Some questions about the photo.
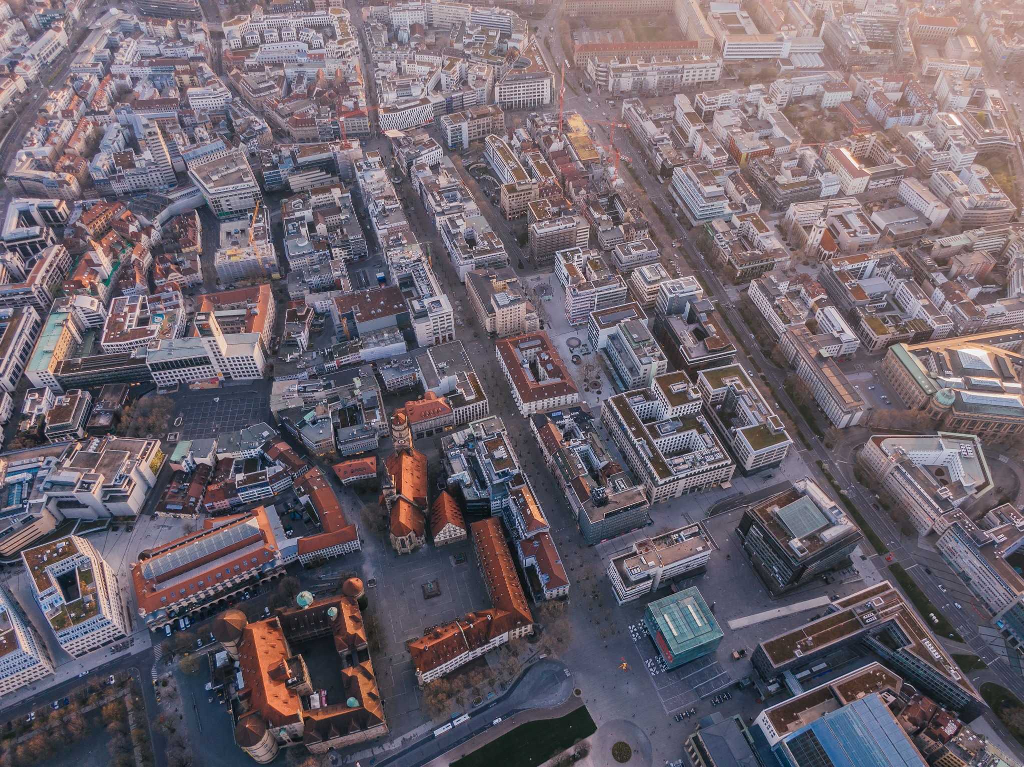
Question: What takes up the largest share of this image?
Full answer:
The largest share of the image is taken up by buildings.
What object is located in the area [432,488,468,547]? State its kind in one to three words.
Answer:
house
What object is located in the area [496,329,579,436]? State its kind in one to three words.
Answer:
building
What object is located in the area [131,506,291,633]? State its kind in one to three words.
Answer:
building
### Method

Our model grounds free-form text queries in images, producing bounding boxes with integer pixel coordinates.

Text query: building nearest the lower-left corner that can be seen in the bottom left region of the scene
[0,589,56,695]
